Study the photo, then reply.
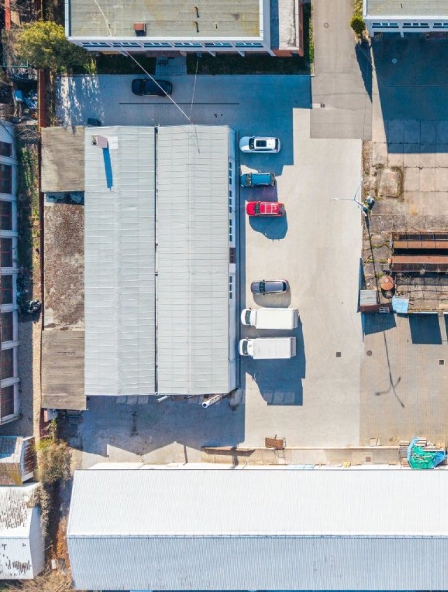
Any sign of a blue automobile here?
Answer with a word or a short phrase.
Yes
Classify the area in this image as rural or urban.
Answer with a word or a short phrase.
urban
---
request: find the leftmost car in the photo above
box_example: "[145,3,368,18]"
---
[133,78,173,97]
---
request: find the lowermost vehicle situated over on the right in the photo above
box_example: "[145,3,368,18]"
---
[242,336,298,358]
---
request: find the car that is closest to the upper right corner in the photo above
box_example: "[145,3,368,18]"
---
[242,136,280,153]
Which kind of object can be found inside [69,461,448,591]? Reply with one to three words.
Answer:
building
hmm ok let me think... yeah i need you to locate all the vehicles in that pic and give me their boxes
[243,308,300,330]
[242,171,276,188]
[247,200,286,218]
[242,336,298,358]
[133,78,173,97]
[242,136,280,153]
[253,279,290,296]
